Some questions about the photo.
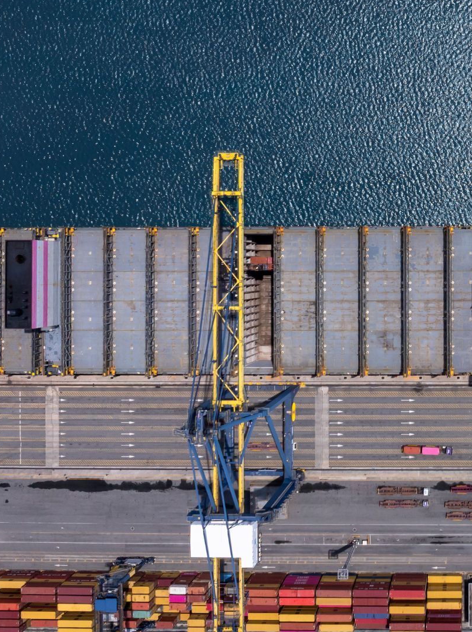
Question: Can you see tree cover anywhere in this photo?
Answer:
No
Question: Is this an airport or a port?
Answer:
port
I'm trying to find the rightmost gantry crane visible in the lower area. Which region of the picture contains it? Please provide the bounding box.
[176,150,314,632]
